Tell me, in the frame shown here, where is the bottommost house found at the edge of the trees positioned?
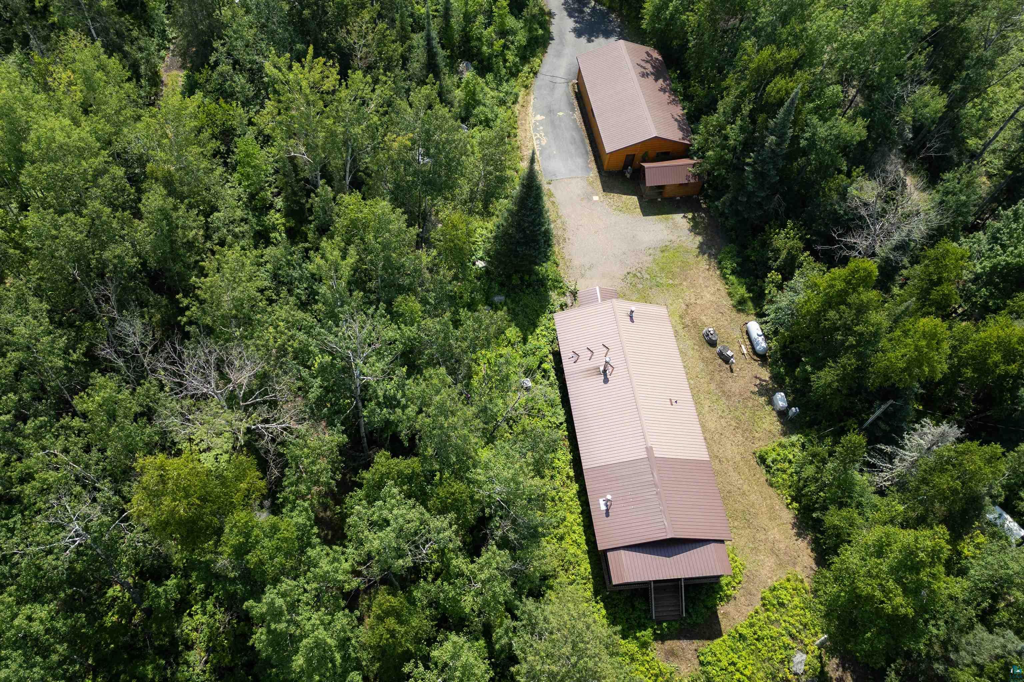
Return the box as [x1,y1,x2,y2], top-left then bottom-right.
[555,285,732,628]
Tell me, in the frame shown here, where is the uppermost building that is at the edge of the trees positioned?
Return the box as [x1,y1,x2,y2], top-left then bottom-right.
[579,40,693,171]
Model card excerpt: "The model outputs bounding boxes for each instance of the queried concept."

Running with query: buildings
[555,285,732,628]
[579,40,693,171]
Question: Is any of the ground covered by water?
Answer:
No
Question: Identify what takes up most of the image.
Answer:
trees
